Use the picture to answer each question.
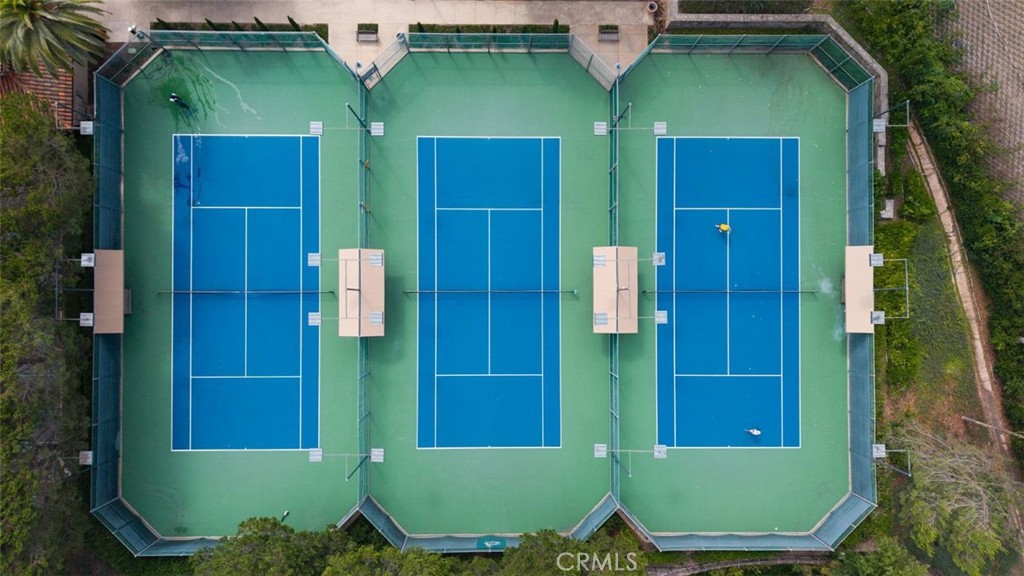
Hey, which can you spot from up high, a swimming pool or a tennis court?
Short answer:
tennis court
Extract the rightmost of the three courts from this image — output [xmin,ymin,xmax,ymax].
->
[609,54,847,530]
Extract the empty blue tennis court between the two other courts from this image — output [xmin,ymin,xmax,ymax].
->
[369,54,610,532]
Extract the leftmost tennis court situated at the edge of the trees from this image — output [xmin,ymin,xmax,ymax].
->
[124,51,370,534]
